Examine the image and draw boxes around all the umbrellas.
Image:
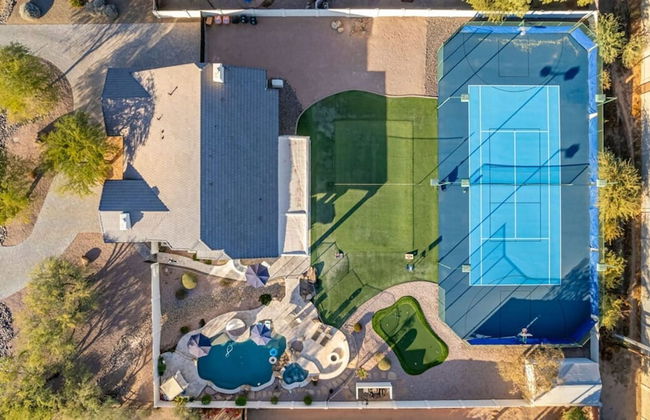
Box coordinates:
[189,332,213,355]
[248,261,270,284]
[251,322,273,344]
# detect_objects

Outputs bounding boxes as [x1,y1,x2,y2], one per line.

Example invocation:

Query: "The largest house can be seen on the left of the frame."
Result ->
[98,64,284,261]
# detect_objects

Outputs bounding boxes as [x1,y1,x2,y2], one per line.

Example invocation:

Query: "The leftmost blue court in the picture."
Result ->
[439,32,589,338]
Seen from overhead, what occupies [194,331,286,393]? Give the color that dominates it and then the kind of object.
blue swimming pool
